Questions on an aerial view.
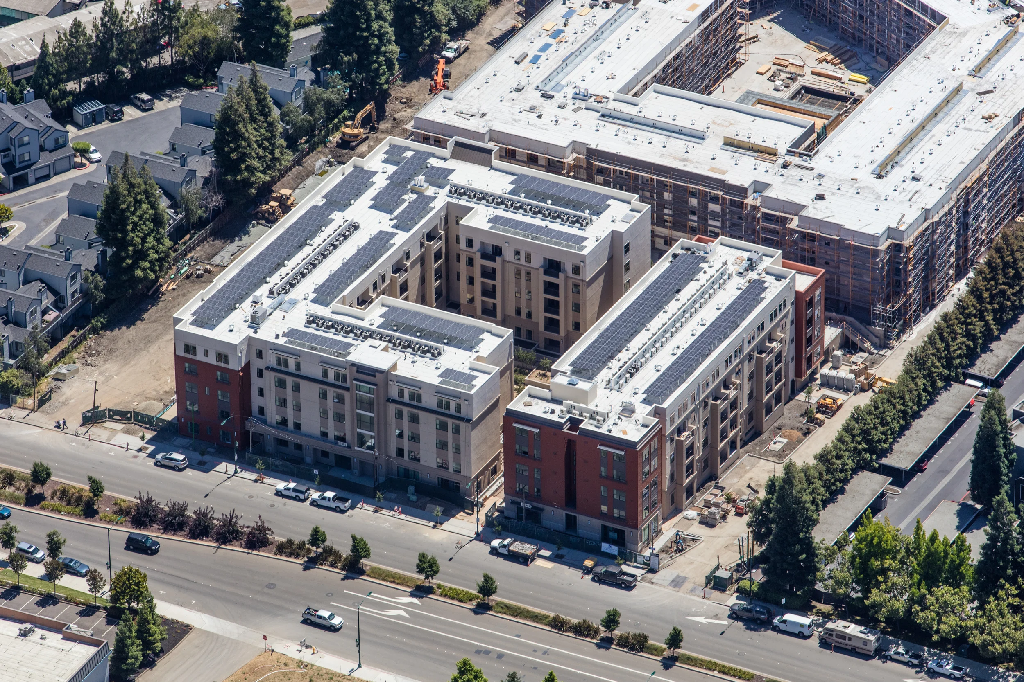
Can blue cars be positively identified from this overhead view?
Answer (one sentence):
Yes, you can see a blue car in this photo.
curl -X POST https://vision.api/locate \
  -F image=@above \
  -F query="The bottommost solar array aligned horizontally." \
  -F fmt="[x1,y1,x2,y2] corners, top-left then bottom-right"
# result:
[437,368,479,389]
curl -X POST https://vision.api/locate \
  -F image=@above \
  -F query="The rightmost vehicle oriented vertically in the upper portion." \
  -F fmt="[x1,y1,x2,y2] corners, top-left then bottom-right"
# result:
[431,61,449,98]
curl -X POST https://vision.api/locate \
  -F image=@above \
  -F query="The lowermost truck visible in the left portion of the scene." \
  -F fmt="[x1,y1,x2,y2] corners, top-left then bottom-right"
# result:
[299,607,348,632]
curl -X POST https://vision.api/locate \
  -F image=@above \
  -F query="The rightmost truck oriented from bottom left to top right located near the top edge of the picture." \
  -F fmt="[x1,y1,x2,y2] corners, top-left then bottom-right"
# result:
[440,23,473,61]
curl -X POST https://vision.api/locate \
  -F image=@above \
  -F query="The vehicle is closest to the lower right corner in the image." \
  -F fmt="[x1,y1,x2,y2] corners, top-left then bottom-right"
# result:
[920,657,970,680]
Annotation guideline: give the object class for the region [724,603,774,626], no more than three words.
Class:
truck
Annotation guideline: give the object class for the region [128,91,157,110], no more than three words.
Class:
car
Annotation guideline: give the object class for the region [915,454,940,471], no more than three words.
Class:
vehicle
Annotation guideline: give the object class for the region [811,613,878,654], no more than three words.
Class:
camper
